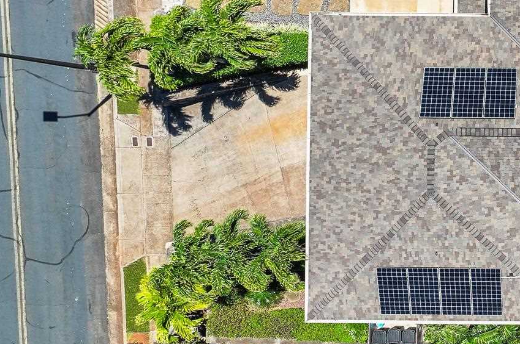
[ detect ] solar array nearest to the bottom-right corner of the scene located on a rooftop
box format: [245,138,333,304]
[377,268,503,315]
